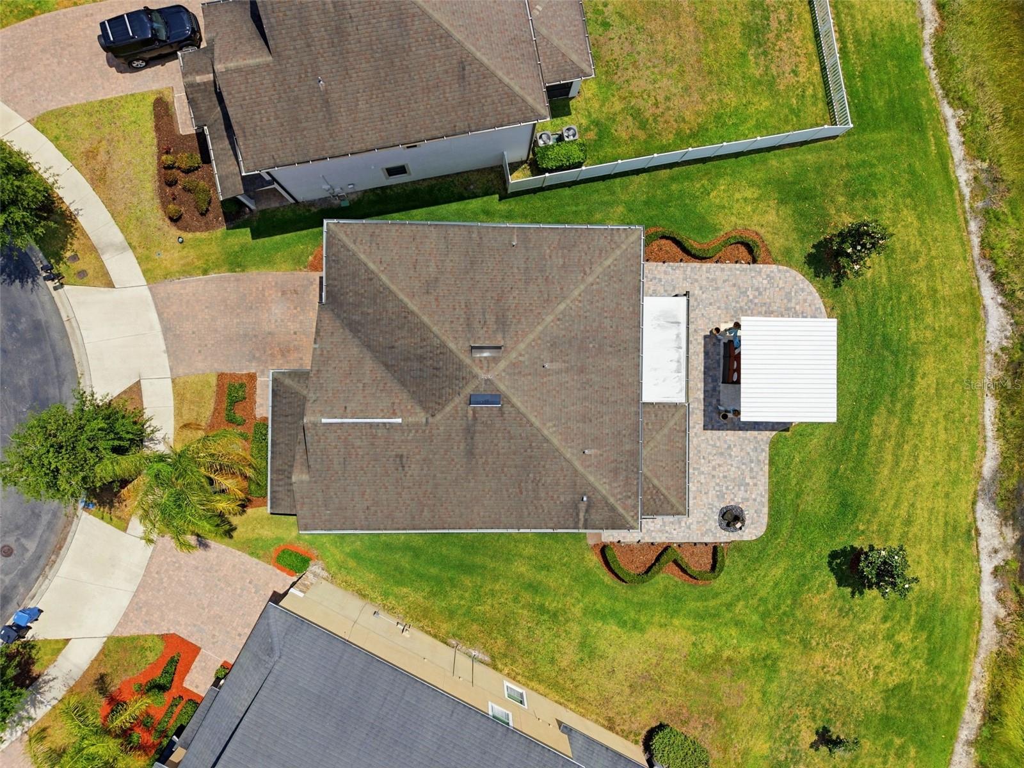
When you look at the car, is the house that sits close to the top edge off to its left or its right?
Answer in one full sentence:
The house that sits close to the top edge can be seen on the right of the car.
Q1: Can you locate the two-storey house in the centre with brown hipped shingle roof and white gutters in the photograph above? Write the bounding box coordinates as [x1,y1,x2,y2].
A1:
[268,219,689,535]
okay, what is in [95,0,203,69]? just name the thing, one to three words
car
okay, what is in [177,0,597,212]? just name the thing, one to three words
house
